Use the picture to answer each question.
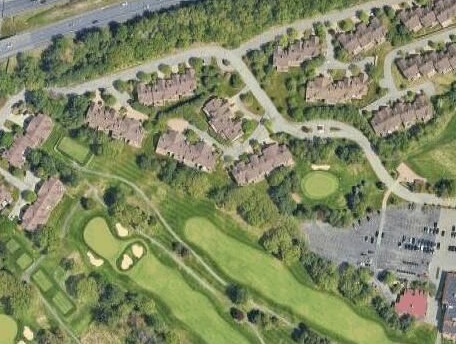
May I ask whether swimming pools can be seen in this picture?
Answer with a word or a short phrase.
No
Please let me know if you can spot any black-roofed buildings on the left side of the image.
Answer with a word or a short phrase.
No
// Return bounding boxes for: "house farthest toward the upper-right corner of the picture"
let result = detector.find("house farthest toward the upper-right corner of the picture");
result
[401,0,456,36]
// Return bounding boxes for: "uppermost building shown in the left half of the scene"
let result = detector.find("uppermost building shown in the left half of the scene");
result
[138,70,197,108]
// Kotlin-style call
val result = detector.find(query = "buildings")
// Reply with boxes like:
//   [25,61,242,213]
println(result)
[5,113,54,170]
[138,70,197,108]
[87,105,145,144]
[373,91,435,141]
[0,184,16,216]
[201,100,247,143]
[159,133,216,169]
[340,18,389,59]
[275,37,323,72]
[233,141,295,188]
[438,267,456,344]
[398,41,456,86]
[307,75,369,105]
[23,177,65,233]
[396,288,428,320]
[401,0,456,36]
